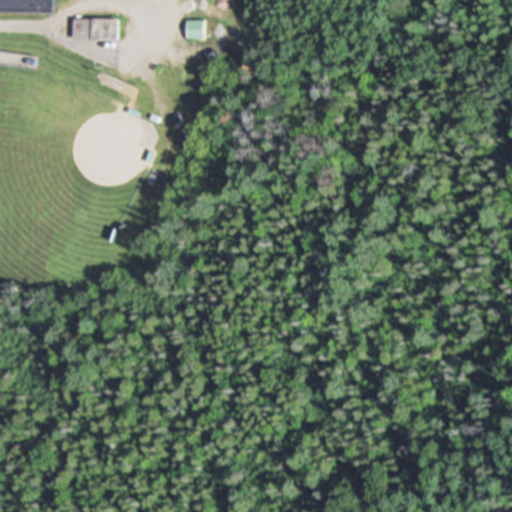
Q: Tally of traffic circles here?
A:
0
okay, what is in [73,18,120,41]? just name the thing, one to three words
building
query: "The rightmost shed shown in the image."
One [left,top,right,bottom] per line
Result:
[187,20,207,40]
